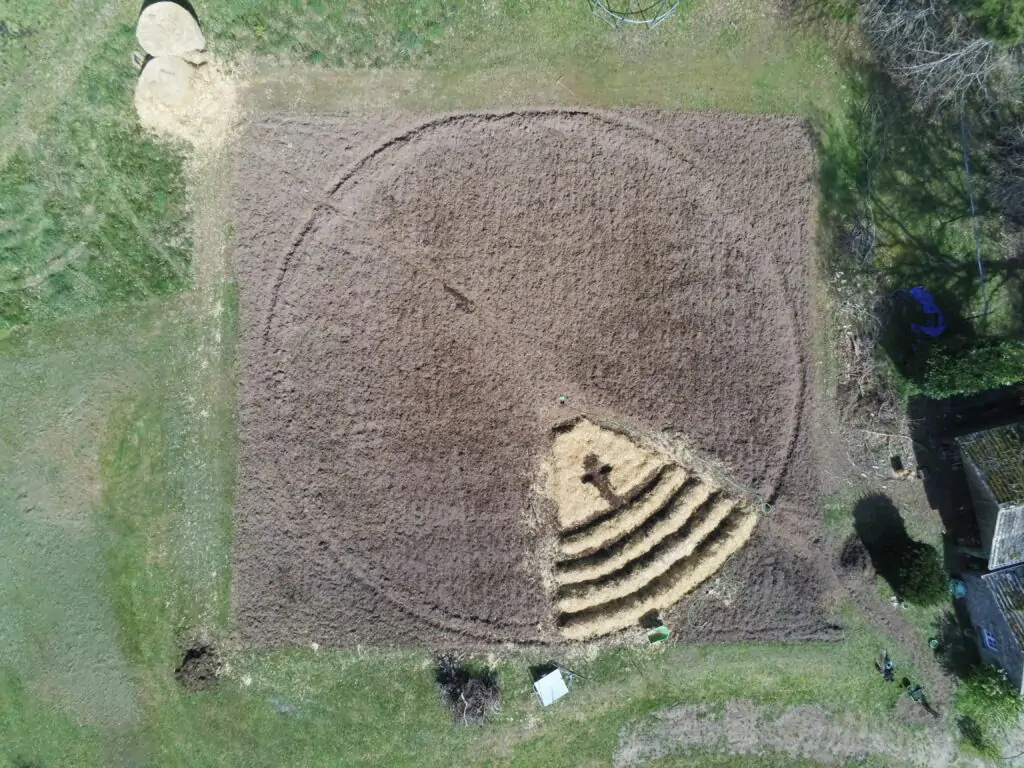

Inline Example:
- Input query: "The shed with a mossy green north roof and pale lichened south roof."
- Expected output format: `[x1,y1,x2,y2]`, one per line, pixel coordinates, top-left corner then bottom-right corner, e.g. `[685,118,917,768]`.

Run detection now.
[920,410,1024,579]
